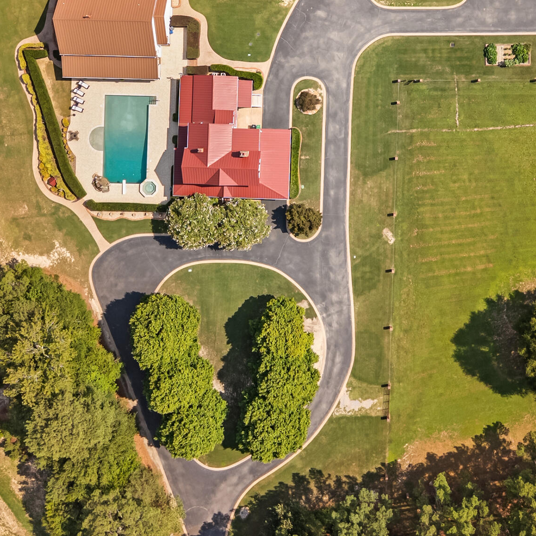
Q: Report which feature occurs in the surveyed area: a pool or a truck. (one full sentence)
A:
Of the two, only a pool appears.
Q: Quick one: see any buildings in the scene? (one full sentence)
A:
Yes, a building appears in the view.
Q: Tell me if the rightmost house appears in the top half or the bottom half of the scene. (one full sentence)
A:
You can find the rightmost house in the top half.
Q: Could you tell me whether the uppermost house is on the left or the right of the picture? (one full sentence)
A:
The uppermost house appears in the left half of the scene.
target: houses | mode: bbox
[173,75,291,200]
[53,0,174,80]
